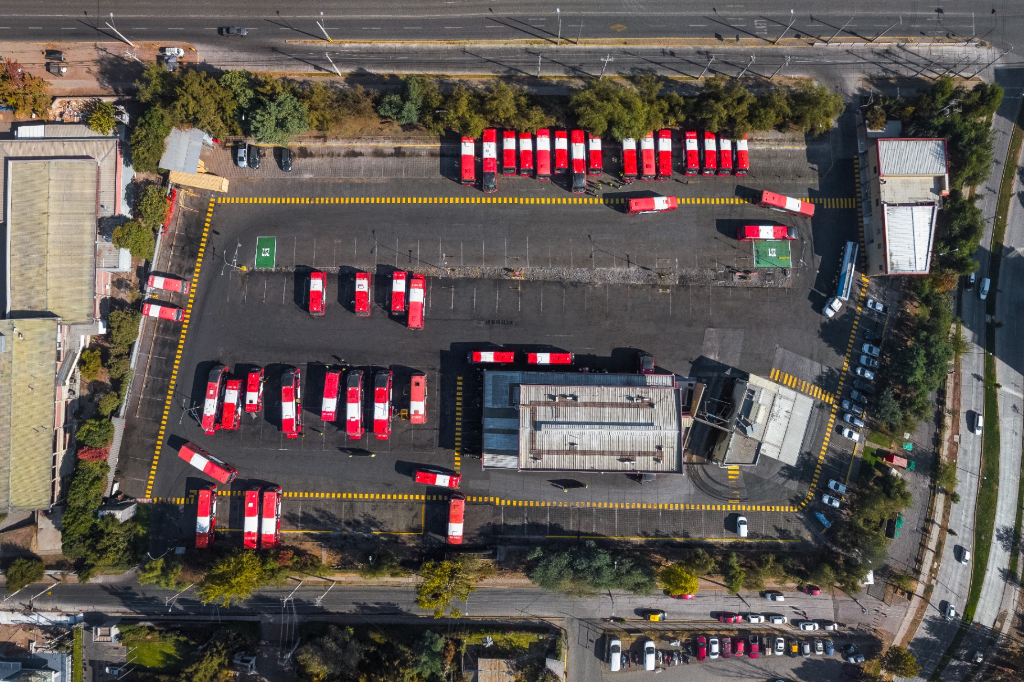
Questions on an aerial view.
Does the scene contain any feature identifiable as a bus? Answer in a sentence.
Yes, there's a bus here.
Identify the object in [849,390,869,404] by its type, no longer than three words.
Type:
car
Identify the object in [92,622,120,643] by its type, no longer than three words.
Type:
house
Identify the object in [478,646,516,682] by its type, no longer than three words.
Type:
house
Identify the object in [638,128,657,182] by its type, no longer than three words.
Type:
vehicle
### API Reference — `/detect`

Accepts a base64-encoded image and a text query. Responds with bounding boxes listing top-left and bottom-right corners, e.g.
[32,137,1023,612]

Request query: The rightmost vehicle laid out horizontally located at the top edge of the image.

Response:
[222,25,249,38]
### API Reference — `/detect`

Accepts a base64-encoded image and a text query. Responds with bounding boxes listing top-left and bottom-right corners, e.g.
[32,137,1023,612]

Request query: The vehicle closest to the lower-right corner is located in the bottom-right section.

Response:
[968,647,986,666]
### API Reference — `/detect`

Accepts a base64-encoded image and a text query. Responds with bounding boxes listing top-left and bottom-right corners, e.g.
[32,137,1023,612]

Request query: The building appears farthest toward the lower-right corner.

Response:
[715,373,817,467]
